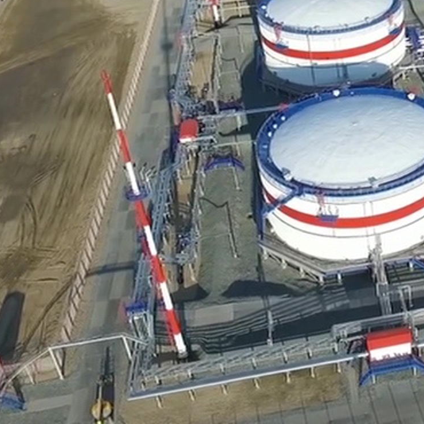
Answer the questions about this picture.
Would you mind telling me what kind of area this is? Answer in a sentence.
What you see here is an industrial area.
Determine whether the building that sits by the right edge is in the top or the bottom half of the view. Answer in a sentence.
You can find the building that sits by the right edge in the bottom half.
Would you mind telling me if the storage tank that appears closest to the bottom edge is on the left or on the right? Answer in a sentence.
It is on the right.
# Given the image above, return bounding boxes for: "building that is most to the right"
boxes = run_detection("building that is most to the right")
[346,316,424,378]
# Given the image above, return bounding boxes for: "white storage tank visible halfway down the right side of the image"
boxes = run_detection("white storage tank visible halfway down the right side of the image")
[254,83,424,280]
